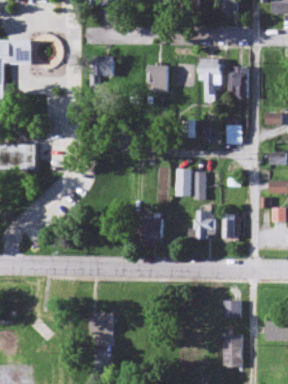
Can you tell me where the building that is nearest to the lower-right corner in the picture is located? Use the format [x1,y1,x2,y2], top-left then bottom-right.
[222,335,244,367]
